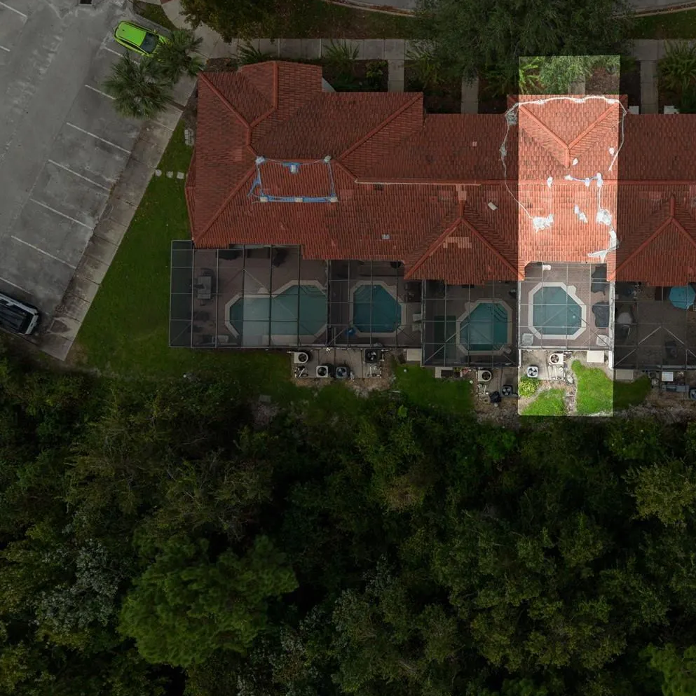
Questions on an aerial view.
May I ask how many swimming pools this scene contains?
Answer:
4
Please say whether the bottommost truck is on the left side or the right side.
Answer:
left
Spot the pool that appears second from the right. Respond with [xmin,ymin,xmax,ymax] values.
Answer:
[456,300,513,356]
